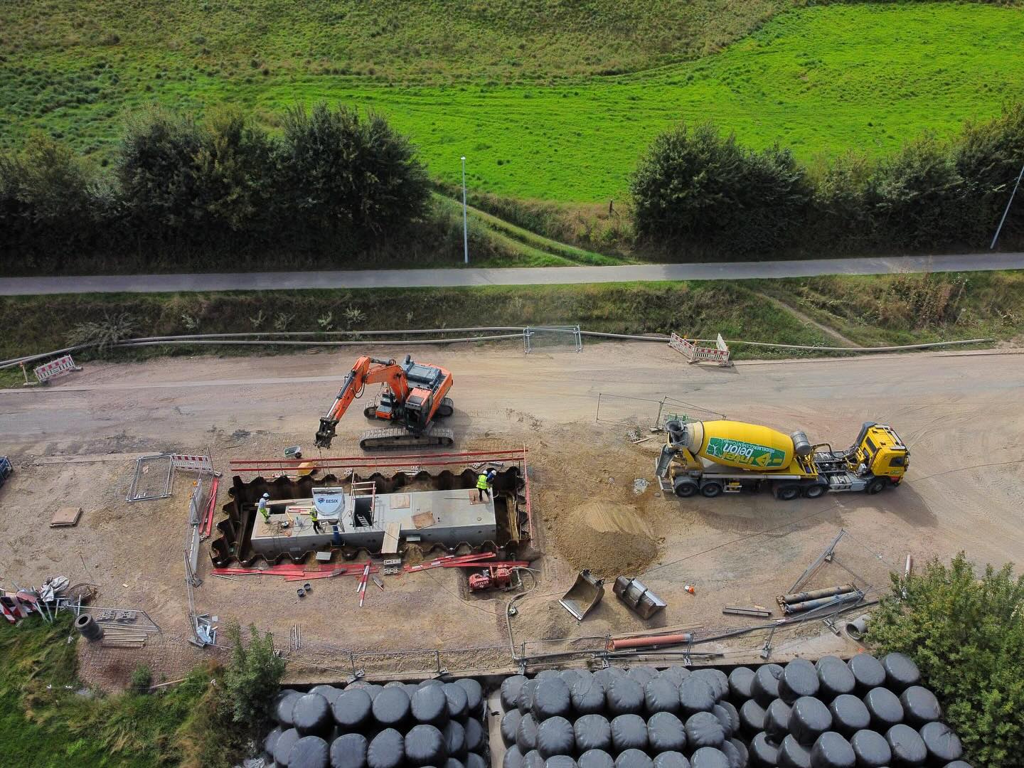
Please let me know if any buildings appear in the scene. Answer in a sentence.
No, no building can be seen from above.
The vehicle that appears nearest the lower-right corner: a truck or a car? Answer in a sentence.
From above, the vehicle that appears nearest the lower-right corner can be identified as a truck.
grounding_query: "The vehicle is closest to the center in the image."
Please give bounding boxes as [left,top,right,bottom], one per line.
[309,353,457,452]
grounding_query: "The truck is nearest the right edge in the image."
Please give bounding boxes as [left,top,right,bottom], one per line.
[655,413,920,498]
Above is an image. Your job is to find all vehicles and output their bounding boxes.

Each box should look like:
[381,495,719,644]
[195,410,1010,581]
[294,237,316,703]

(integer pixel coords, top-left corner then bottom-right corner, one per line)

[655,413,920,498]
[309,353,457,452]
